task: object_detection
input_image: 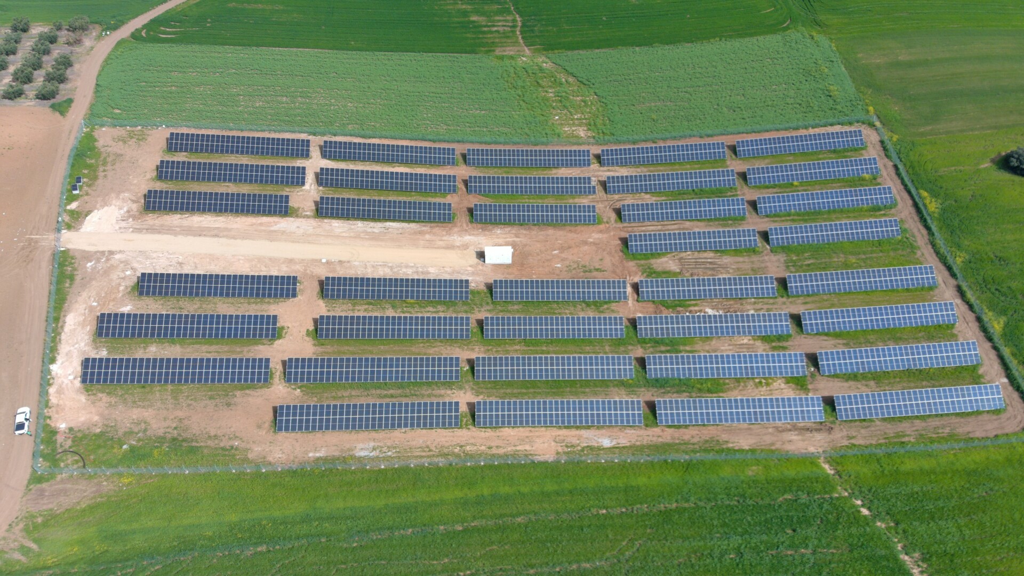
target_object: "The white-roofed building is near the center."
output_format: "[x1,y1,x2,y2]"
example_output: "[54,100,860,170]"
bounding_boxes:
[484,245,513,264]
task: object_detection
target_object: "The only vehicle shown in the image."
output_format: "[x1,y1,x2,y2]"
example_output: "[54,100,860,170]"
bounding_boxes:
[14,407,35,436]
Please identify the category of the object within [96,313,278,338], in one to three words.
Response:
solar array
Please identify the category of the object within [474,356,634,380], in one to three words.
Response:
solar array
